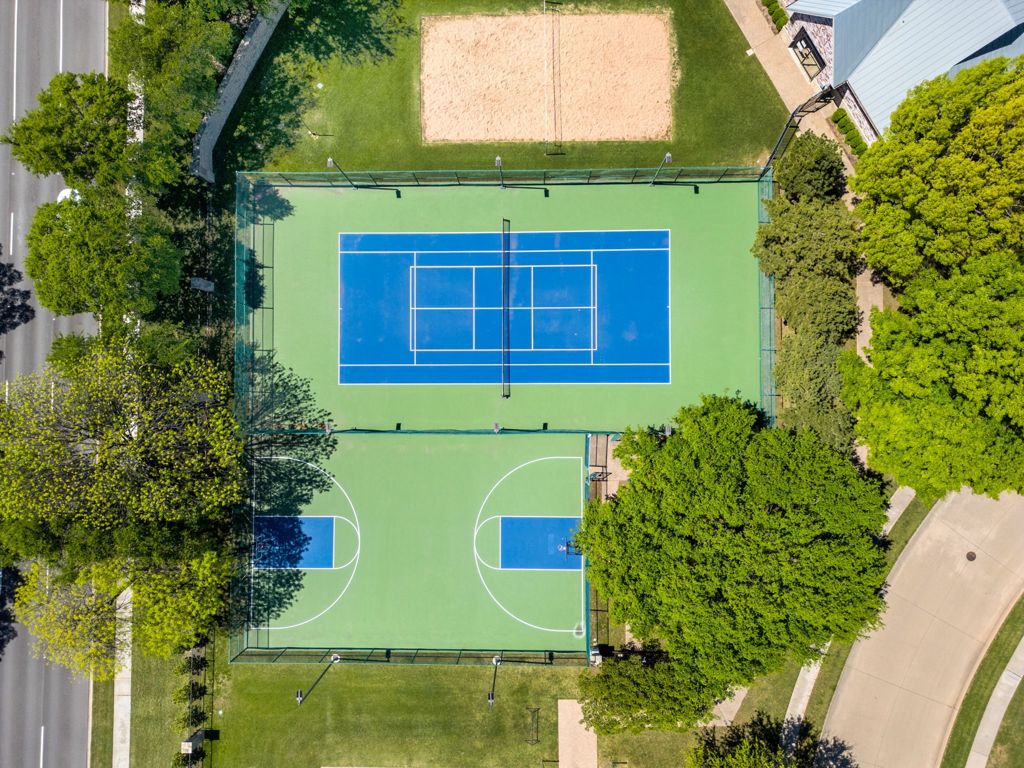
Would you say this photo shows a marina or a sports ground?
sports ground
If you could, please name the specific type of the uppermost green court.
tennis court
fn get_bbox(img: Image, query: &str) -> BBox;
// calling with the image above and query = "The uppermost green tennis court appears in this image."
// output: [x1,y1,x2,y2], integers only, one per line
[249,179,763,431]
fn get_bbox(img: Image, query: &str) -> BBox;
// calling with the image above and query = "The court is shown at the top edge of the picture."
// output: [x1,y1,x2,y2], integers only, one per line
[421,13,672,143]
